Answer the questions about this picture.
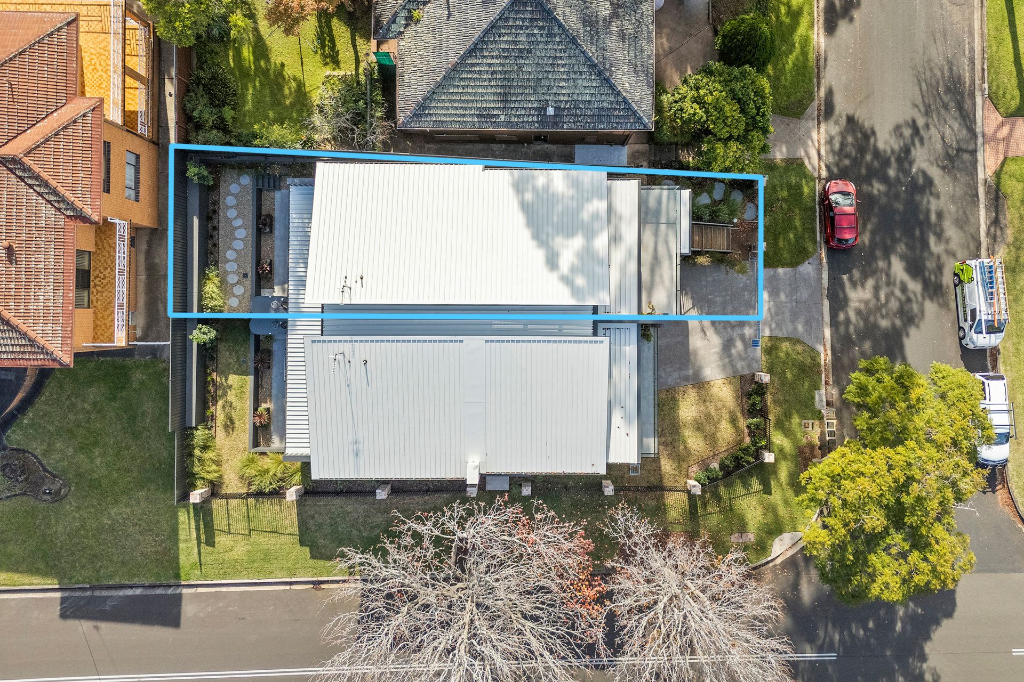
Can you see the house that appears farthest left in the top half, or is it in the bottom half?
top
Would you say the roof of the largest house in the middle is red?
No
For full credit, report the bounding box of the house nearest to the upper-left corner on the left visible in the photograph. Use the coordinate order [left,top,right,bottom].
[0,0,161,369]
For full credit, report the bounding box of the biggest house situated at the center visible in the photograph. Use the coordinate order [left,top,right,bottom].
[283,160,664,485]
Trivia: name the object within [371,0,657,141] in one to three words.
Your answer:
house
